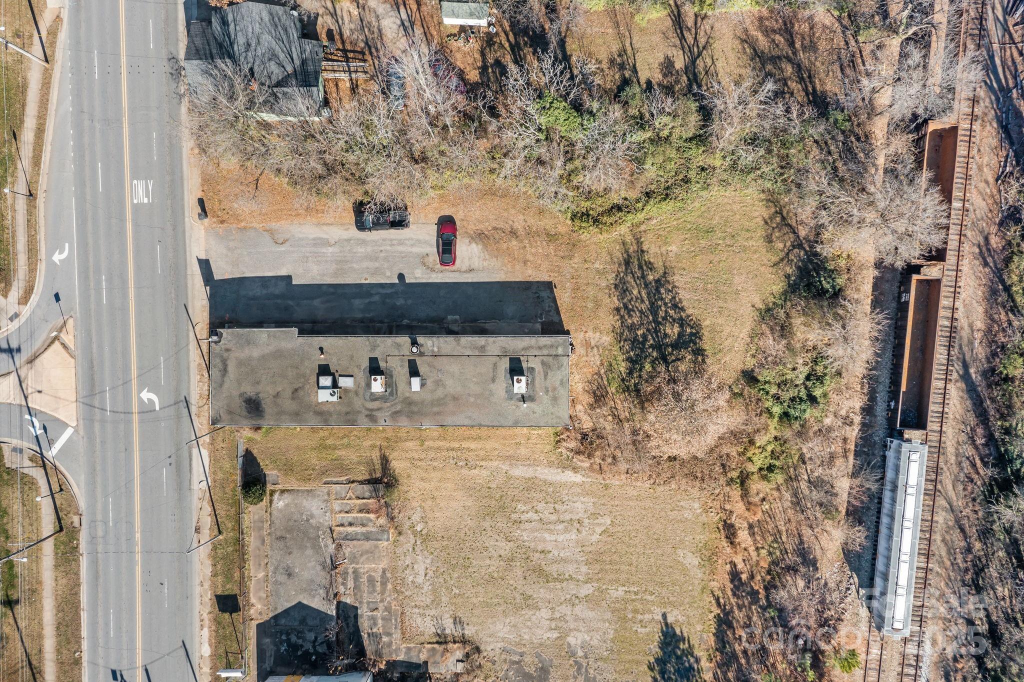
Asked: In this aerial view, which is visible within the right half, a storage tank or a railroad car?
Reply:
railroad car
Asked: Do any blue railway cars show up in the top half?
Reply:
No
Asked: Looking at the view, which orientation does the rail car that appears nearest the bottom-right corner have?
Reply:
vertically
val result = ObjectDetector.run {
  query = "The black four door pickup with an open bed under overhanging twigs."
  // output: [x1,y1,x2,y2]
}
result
[354,205,411,231]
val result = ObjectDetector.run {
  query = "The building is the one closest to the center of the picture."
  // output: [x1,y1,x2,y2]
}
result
[211,328,573,431]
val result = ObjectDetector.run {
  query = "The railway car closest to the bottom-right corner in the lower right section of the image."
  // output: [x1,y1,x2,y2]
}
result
[866,428,929,639]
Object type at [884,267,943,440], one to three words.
rail car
